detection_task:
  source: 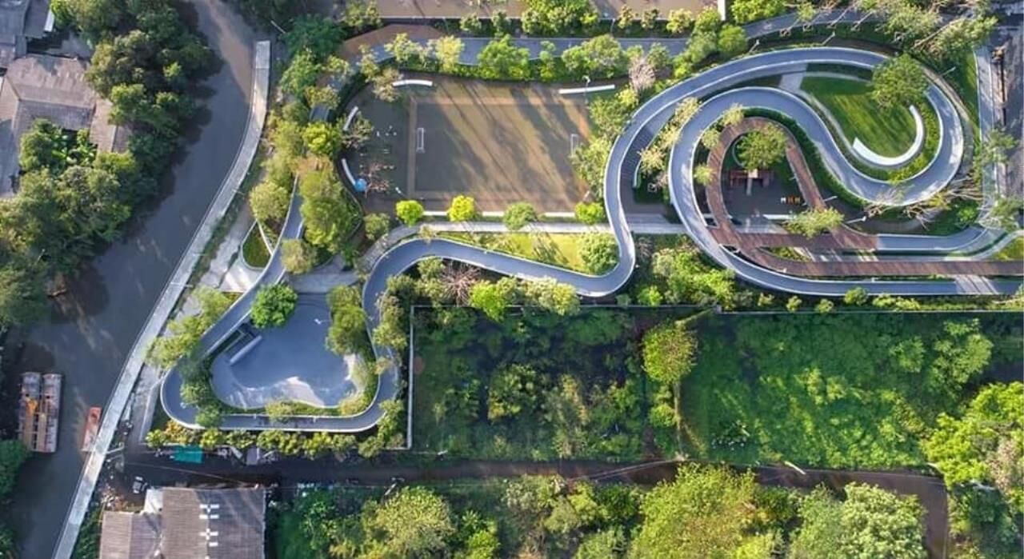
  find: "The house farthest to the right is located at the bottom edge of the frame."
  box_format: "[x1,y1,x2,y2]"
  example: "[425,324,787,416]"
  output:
[161,485,269,559]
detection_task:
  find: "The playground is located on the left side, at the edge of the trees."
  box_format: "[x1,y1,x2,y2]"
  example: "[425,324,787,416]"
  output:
[336,68,412,222]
